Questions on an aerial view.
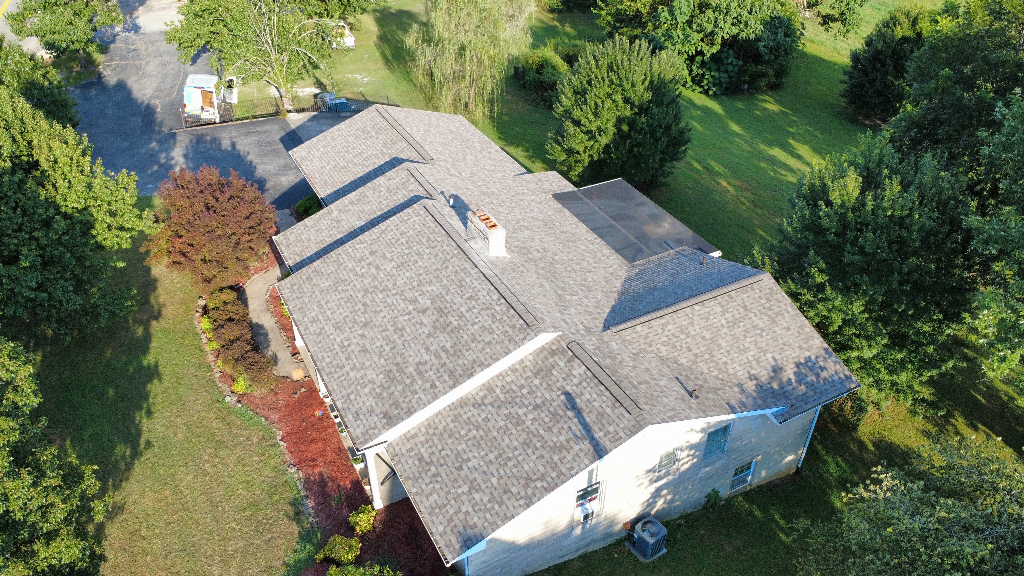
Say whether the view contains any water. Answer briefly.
No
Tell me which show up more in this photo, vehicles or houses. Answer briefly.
vehicles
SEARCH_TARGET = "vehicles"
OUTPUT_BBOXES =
[176,72,240,124]
[305,90,354,112]
[326,25,357,54]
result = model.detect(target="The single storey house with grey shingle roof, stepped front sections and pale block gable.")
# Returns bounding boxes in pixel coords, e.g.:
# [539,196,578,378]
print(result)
[272,104,866,576]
